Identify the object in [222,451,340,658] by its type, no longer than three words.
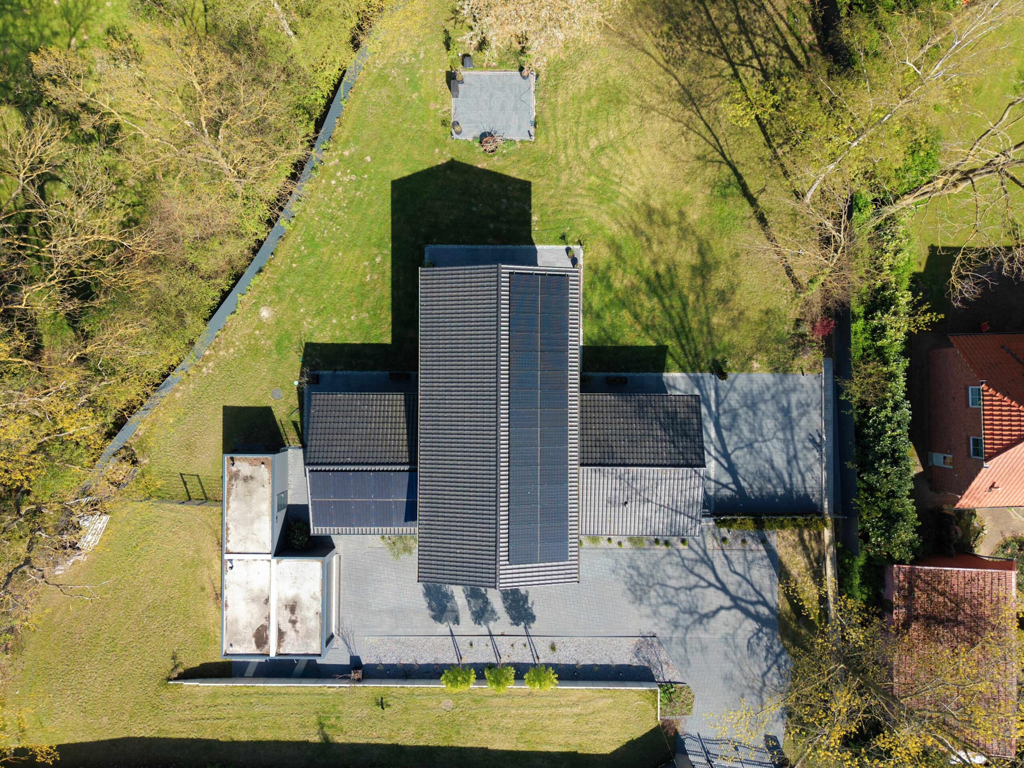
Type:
building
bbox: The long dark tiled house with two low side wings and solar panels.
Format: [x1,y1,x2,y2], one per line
[303,261,707,592]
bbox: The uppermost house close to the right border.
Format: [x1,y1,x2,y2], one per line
[915,332,1024,511]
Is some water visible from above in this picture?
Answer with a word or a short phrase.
No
